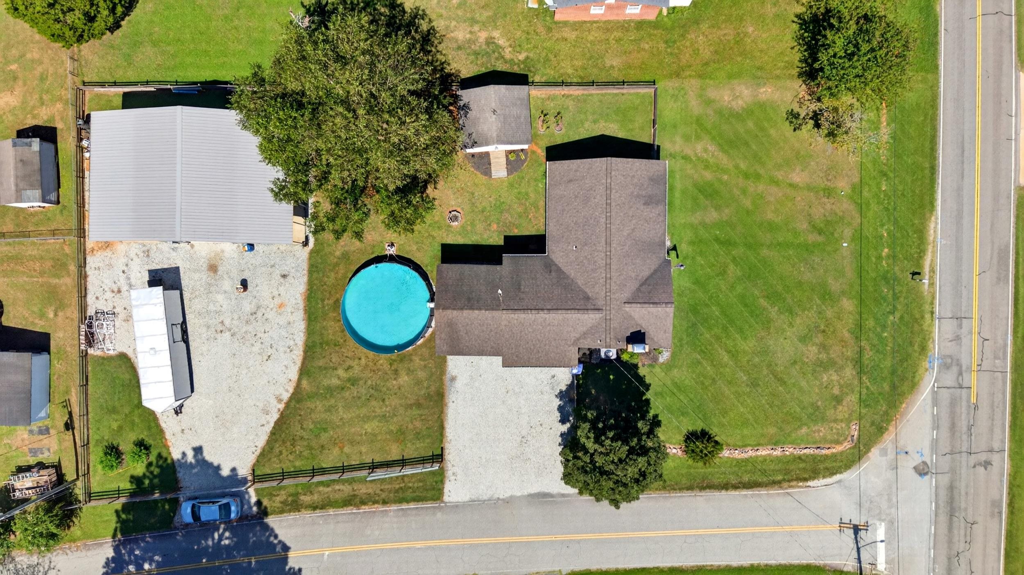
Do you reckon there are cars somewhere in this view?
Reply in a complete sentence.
Yes, a car appears in the view.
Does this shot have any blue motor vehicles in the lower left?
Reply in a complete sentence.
Yes, the scene does show a blue motor vehicle in the lower left.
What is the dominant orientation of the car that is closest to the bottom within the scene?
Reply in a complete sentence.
In this picture, the car that is closest to the bottom is oriented from side to side.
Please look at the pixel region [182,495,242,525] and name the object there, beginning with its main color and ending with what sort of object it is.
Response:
blue car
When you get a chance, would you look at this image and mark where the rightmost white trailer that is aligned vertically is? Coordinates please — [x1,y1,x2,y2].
[130,286,187,424]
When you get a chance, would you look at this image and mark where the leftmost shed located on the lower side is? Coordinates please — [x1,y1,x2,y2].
[0,351,49,428]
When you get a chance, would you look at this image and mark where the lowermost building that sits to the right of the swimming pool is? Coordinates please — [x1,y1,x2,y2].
[433,158,674,368]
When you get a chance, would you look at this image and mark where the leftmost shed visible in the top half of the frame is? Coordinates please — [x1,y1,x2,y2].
[0,137,56,206]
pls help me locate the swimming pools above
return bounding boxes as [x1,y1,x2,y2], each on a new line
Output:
[340,261,434,356]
